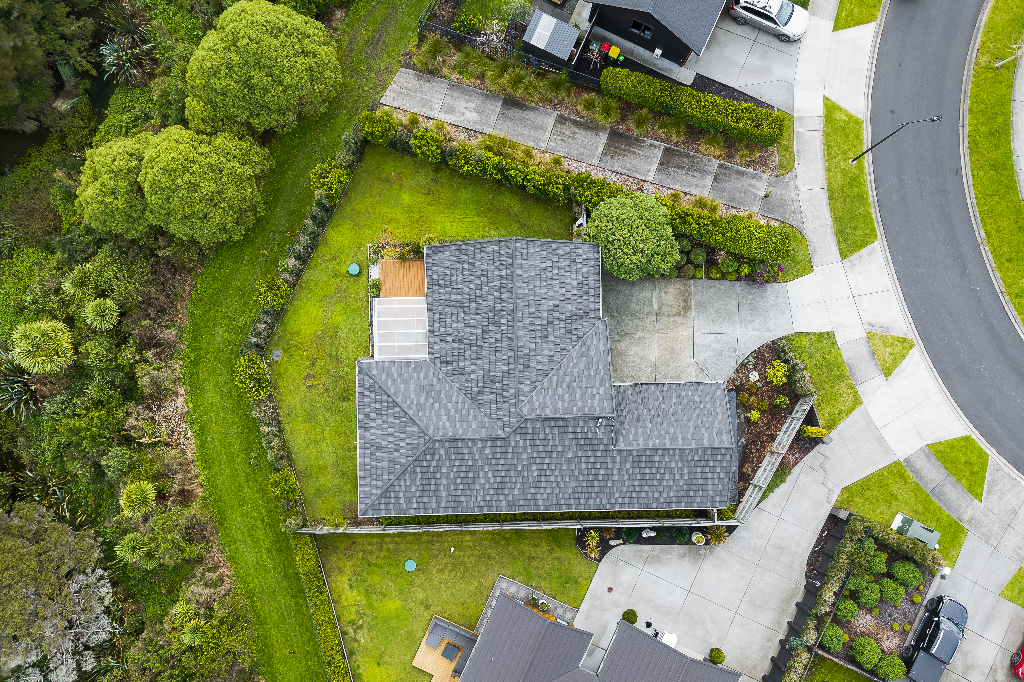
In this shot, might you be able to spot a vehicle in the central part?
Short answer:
No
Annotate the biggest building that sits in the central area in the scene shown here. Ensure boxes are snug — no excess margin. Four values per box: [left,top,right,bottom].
[353,238,735,517]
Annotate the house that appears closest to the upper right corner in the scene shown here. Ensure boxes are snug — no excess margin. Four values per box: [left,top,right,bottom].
[577,0,728,67]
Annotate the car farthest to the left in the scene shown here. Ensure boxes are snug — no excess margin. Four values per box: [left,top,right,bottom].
[727,0,812,43]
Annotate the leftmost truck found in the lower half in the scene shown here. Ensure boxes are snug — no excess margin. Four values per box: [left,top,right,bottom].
[902,593,971,682]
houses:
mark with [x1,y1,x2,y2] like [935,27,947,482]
[457,590,744,682]
[577,0,728,67]
[353,238,735,517]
